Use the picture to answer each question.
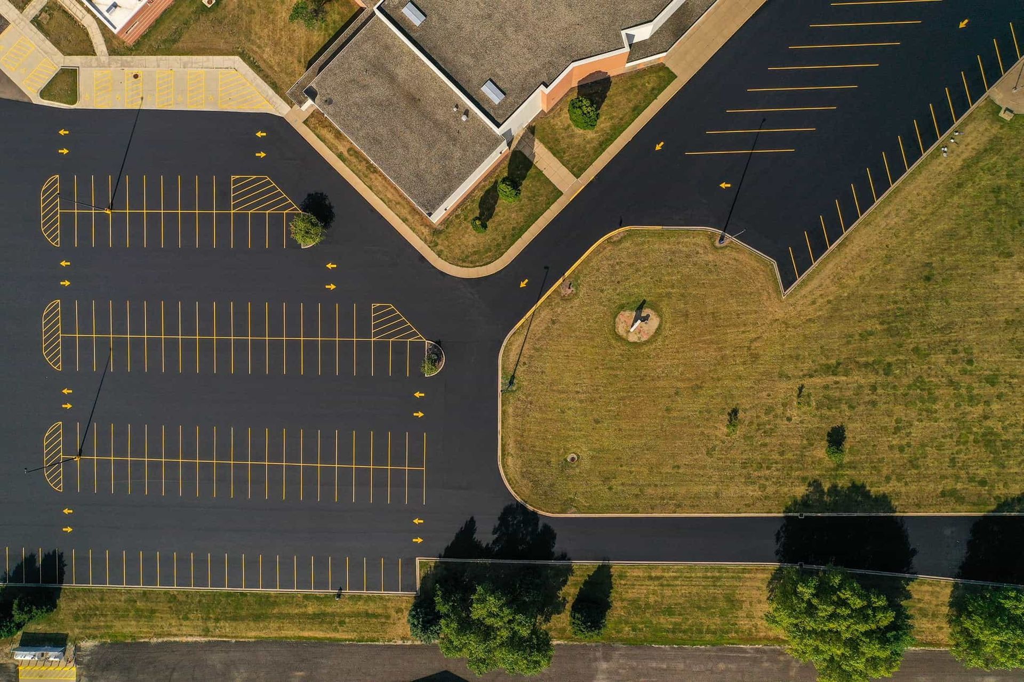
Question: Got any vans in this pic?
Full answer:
No, this view has no van in it.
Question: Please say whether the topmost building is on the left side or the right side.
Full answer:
The topmost building appears in the left half of the scene.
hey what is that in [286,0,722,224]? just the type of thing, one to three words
building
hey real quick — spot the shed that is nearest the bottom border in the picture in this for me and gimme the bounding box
[11,647,64,662]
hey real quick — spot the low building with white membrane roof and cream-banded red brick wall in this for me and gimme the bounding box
[82,0,172,44]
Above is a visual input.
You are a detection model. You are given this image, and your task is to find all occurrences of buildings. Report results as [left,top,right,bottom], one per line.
[11,647,64,662]
[286,0,722,224]
[82,0,172,44]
